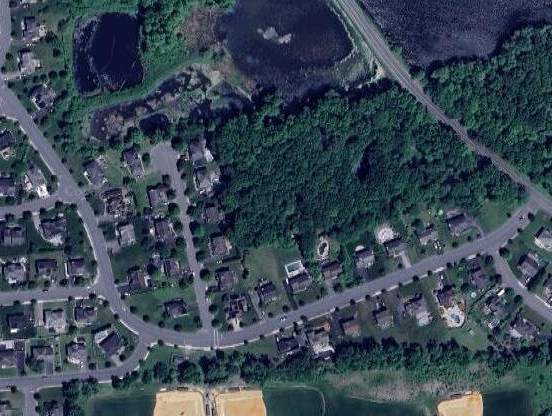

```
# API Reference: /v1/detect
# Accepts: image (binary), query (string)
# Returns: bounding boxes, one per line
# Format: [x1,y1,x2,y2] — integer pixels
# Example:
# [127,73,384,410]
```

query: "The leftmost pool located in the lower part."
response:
[284,260,303,275]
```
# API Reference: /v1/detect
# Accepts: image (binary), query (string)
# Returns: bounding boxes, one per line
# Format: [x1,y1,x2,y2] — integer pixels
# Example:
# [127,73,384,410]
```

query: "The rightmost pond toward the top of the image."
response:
[217,0,357,99]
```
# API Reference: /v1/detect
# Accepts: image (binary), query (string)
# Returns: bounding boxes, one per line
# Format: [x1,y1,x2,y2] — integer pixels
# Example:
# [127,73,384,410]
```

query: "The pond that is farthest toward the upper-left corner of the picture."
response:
[72,12,142,95]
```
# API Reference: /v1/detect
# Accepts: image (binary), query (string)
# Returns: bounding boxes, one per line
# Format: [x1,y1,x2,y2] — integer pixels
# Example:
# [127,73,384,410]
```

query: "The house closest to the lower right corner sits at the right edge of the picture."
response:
[509,317,539,343]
